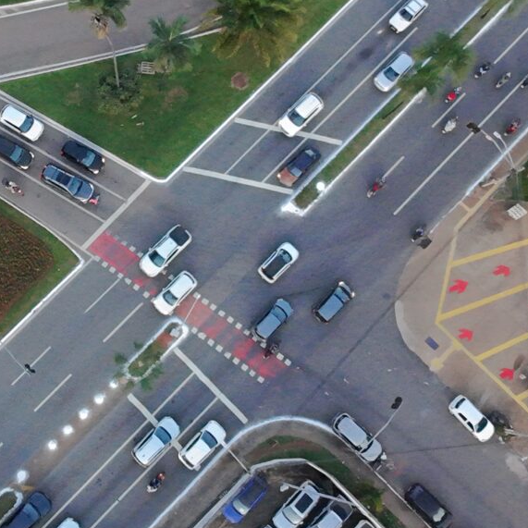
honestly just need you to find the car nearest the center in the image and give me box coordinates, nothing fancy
[256,241,299,285]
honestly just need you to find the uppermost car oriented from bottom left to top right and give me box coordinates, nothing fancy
[388,0,428,35]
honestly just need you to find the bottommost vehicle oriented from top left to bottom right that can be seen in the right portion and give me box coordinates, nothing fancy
[399,477,453,528]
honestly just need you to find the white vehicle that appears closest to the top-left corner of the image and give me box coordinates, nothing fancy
[0,104,44,141]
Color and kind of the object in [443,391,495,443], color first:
white car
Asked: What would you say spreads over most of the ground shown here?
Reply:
paved ground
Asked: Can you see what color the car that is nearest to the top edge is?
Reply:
white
